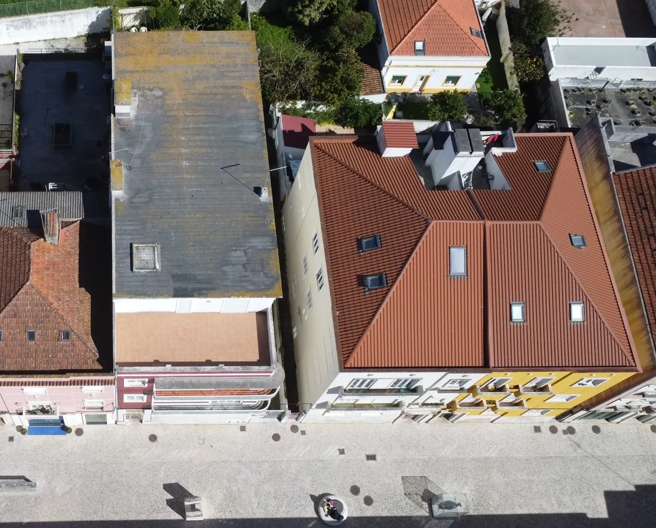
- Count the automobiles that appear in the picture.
0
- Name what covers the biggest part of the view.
buildings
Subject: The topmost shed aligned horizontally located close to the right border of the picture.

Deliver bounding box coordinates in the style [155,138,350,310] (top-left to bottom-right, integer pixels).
[529,38,656,95]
